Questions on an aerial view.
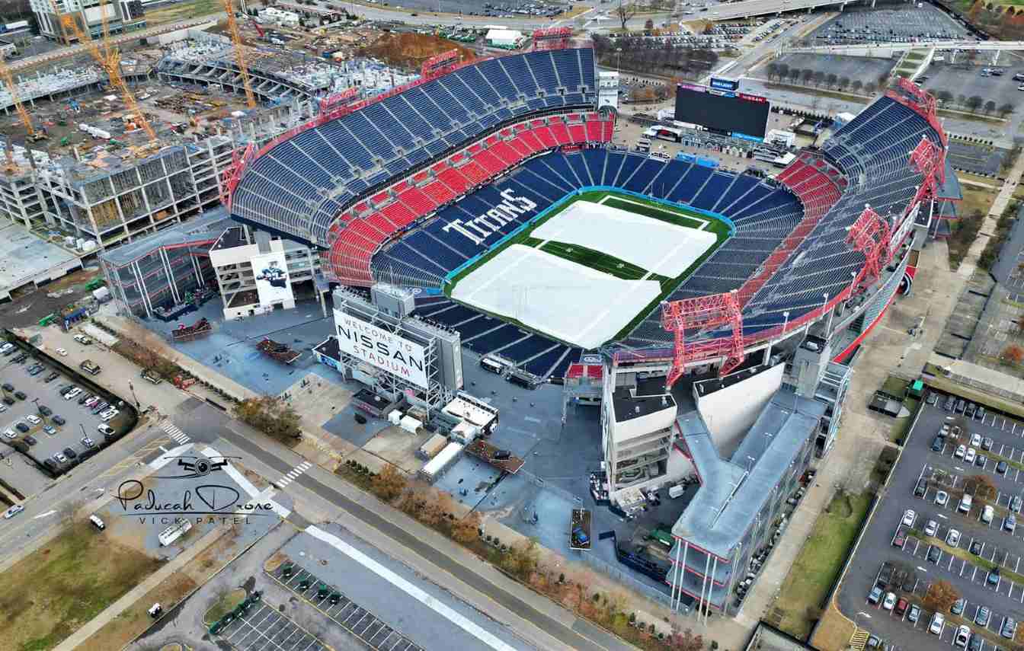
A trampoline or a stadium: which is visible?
stadium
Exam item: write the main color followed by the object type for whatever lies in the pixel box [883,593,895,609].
white vehicle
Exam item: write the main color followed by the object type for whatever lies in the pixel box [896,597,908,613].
red vehicle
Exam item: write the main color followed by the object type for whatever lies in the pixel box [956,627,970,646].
white car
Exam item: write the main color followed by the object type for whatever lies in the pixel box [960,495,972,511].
white vehicle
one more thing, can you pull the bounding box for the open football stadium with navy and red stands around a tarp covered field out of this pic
[220,39,949,414]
